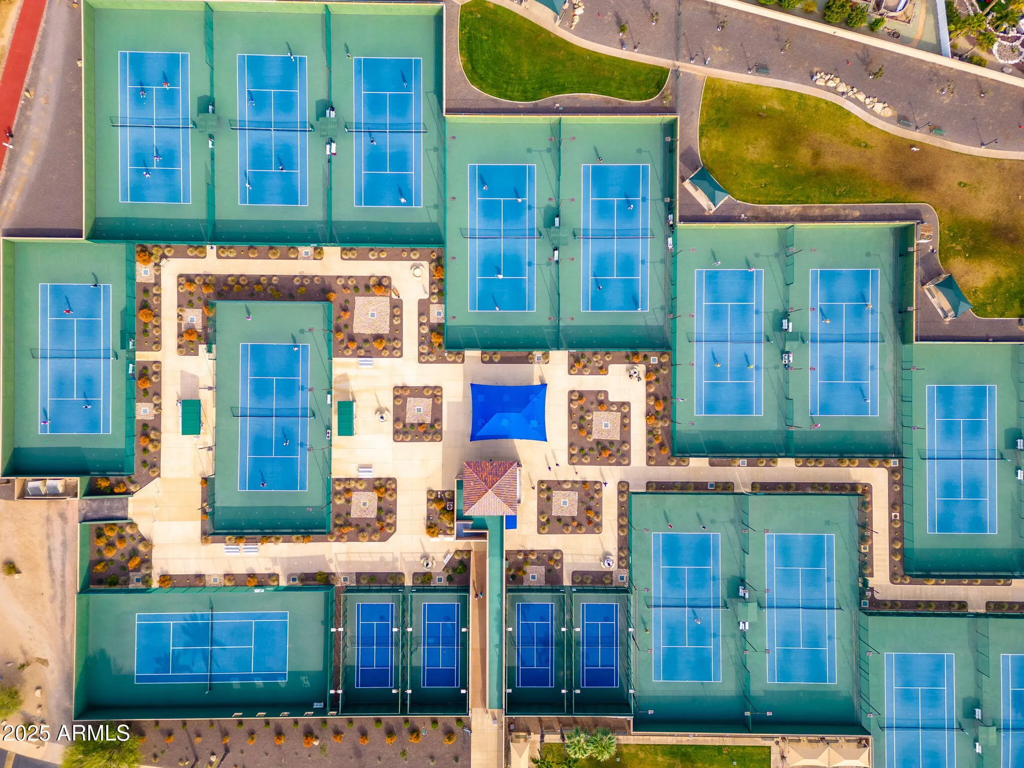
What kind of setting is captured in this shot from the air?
sports ground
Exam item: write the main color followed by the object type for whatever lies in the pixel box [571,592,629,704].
blue tennis court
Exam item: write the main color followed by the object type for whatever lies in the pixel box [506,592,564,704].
blue tennis court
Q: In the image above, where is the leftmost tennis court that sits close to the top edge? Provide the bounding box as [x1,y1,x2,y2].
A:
[94,9,214,245]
